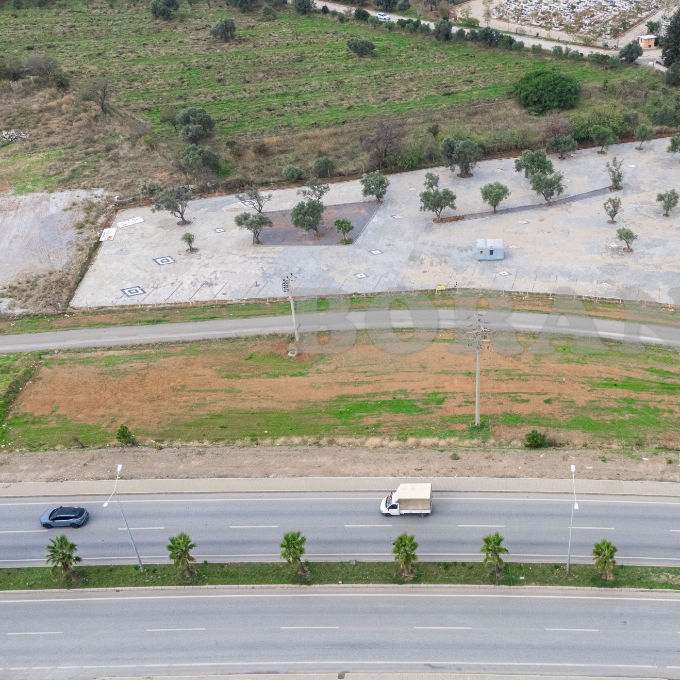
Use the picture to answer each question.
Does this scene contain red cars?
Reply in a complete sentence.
No, no red car is visible in the view.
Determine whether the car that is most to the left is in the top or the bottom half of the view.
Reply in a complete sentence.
The car that is most to the left is in the bottom half of the image.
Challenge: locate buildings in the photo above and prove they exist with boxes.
[638,33,657,49]
[476,239,504,260]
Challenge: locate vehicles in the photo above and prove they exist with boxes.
[376,14,389,20]
[383,480,432,516]
[40,503,93,528]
